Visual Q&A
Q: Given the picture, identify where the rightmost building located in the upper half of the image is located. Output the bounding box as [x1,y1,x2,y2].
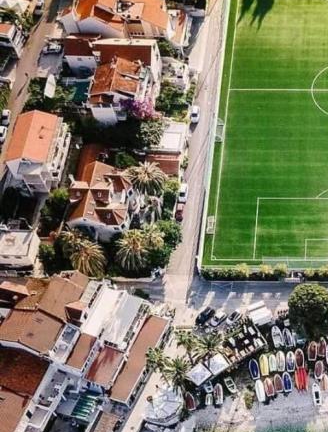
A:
[146,121,189,180]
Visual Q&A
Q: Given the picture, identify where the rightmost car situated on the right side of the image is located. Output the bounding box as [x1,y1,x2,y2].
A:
[226,307,241,324]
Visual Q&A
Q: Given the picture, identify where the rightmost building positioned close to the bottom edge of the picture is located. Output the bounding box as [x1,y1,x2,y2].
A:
[109,315,172,413]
